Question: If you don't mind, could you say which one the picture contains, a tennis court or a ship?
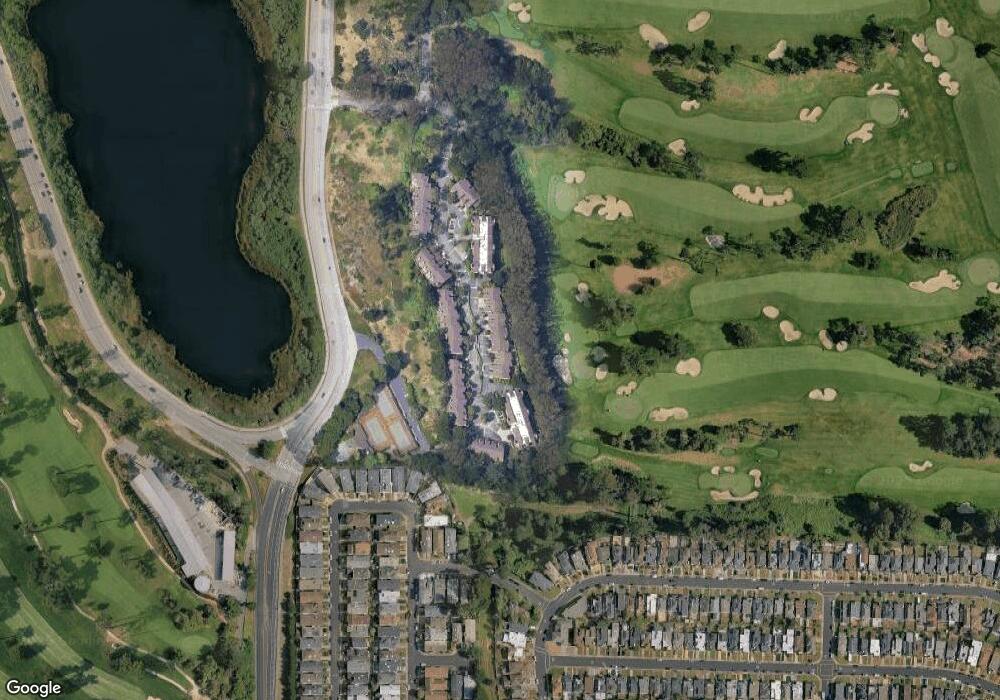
tennis court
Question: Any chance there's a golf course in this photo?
Yes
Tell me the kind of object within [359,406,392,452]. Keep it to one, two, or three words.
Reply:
tennis court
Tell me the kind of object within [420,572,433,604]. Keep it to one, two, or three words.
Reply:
house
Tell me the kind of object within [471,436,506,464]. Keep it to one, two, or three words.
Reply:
building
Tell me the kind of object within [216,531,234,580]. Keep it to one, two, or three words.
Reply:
shed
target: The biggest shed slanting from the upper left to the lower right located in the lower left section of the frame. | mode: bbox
[131,472,206,583]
